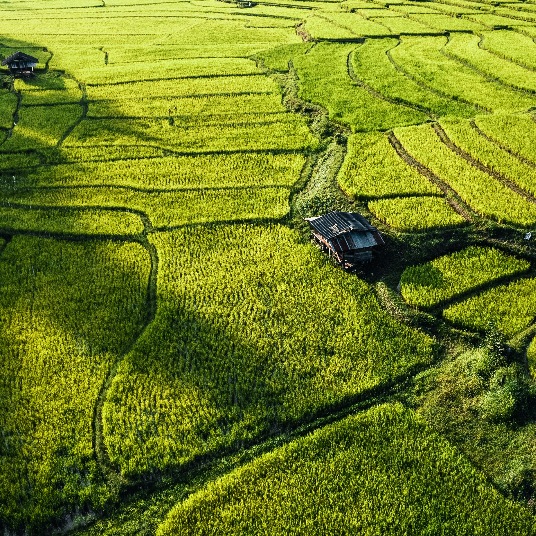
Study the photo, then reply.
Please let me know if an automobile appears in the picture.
No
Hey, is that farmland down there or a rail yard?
farmland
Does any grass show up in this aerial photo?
Yes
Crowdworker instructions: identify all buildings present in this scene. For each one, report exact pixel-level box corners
[297,210,385,266]
[1,50,45,79]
